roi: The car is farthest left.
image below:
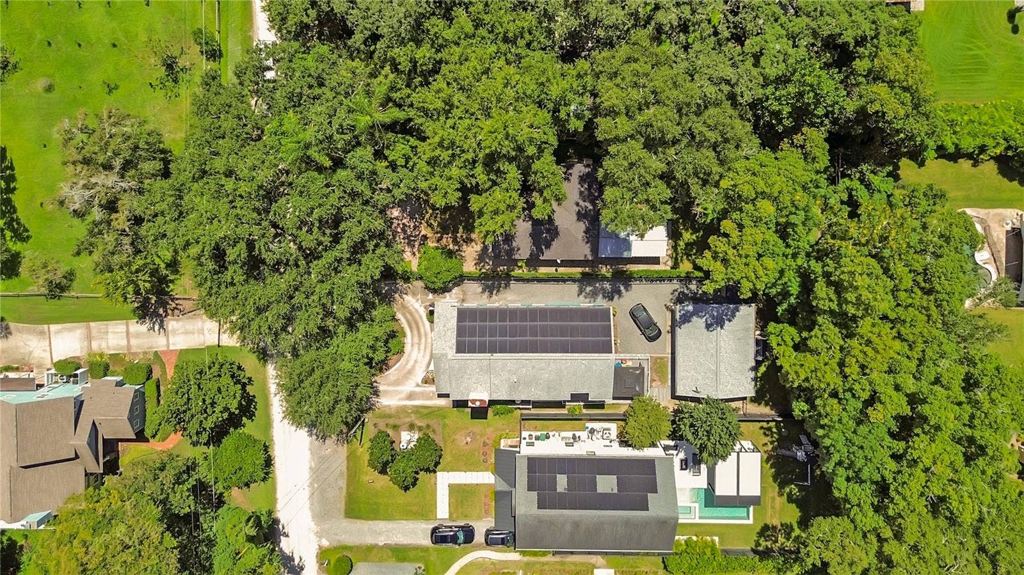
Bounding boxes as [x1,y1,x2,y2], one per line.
[432,524,475,546]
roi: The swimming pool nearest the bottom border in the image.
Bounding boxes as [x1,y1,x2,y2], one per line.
[676,488,753,524]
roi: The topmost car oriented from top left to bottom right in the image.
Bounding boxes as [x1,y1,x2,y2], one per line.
[630,302,660,340]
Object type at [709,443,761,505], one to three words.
building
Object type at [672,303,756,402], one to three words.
barn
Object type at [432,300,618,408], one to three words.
house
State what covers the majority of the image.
trees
